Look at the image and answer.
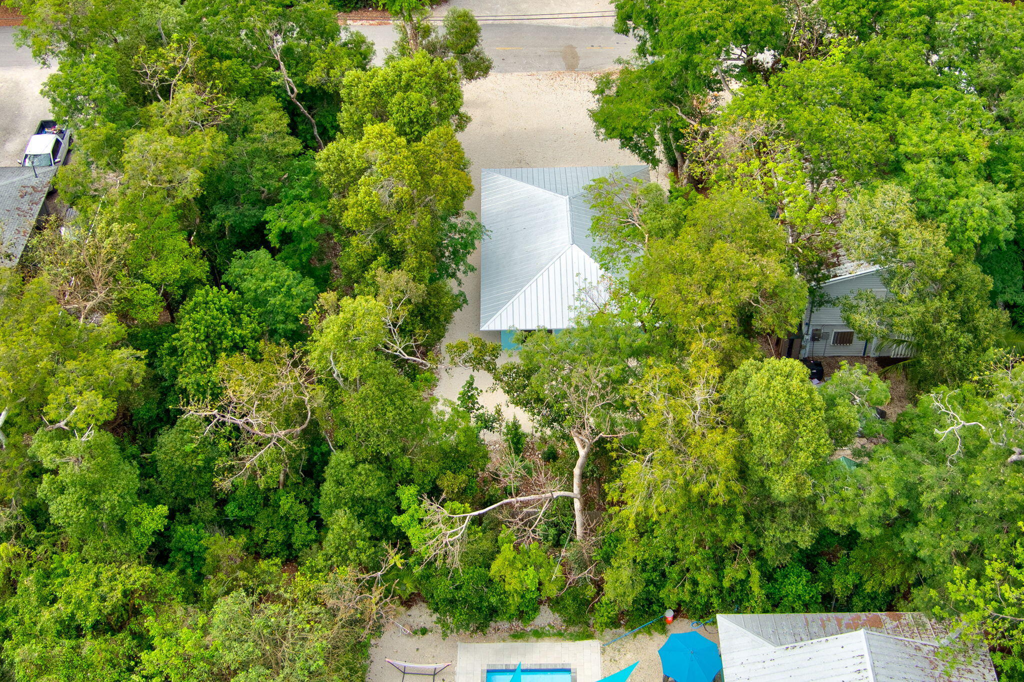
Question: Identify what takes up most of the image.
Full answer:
What you mostly see from above here is trees.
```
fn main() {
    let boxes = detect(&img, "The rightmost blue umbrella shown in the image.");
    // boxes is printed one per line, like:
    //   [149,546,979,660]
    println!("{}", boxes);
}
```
[656,632,721,682]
